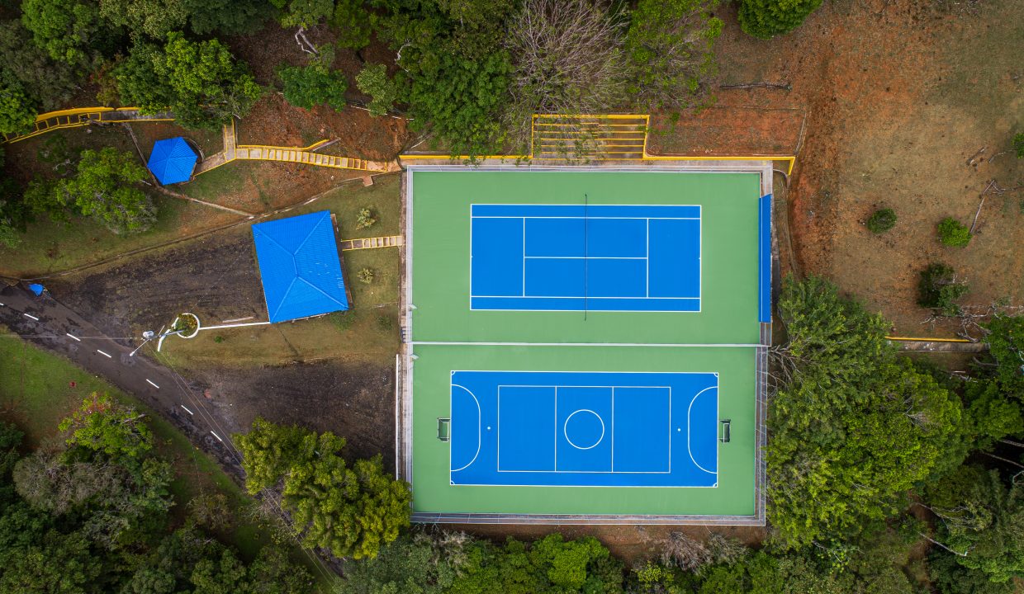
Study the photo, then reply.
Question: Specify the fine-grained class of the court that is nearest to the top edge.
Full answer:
I'd say the court that is nearest to the top edge is a tennis court.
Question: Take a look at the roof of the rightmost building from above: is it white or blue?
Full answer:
In this view, the roof of the rightmost building is blue.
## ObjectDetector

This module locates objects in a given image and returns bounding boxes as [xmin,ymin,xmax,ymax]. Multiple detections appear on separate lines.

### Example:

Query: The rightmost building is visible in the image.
[251,209,354,324]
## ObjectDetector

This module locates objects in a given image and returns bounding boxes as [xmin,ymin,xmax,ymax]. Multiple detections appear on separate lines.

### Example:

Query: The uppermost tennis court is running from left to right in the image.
[412,172,760,346]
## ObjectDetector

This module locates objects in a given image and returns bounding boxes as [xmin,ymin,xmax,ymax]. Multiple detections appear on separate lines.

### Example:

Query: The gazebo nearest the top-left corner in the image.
[147,136,207,188]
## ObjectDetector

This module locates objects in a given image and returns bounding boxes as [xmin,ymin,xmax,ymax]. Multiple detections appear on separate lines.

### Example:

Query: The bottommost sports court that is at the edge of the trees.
[412,344,755,516]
